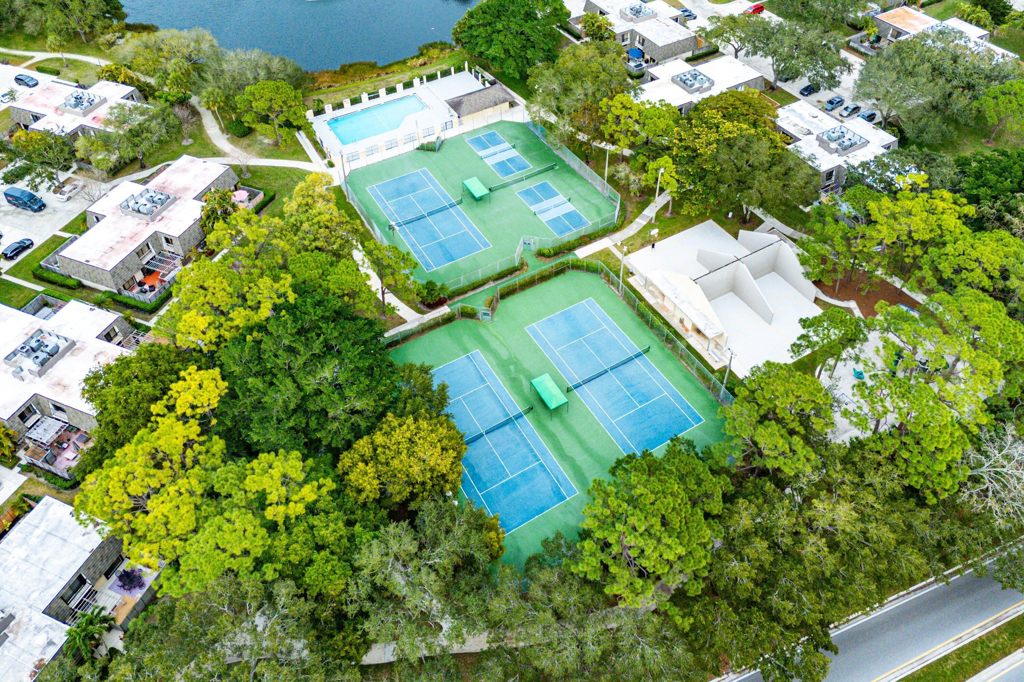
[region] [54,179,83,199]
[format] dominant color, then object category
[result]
white car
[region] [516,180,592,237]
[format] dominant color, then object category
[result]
blue sports court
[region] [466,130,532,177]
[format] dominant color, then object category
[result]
blue sports court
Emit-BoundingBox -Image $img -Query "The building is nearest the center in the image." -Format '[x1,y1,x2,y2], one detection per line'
[644,269,725,352]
